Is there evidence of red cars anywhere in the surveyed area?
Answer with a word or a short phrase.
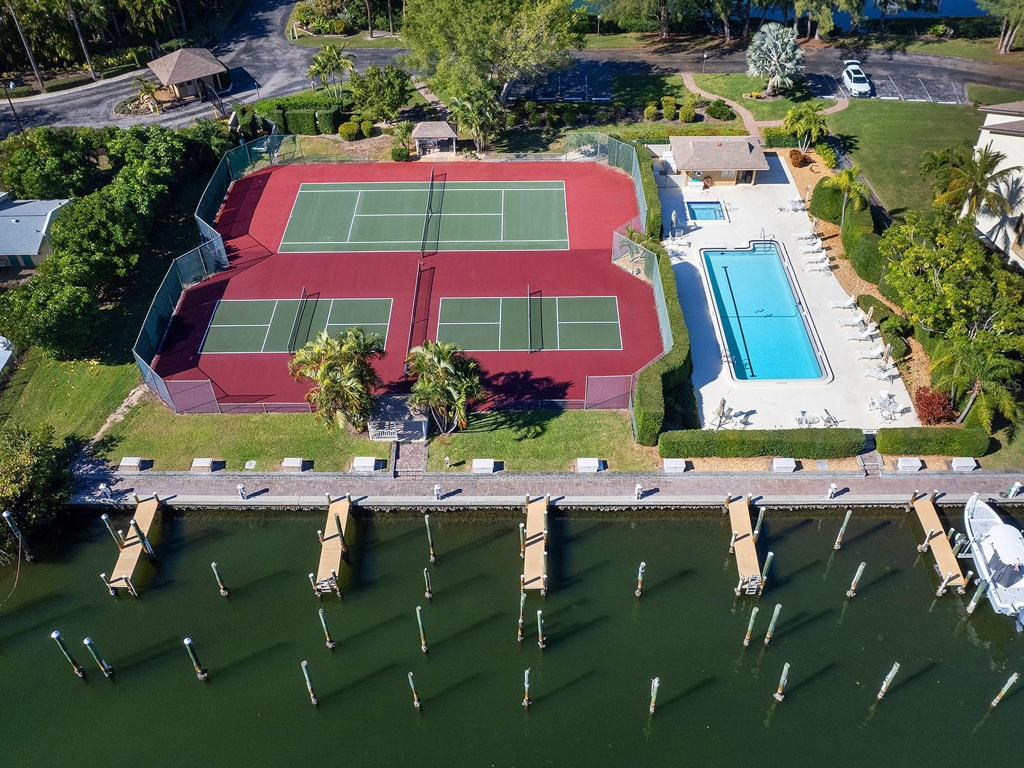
No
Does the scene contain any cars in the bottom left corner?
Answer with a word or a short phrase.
No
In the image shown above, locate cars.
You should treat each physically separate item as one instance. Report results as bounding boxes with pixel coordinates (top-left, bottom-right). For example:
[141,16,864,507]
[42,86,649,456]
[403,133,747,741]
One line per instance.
[843,56,872,94]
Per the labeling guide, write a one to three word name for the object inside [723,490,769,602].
pier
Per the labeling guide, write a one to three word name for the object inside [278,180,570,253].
tennis court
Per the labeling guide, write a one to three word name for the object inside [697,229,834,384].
swimming pool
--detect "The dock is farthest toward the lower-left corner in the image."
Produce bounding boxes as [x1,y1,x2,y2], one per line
[100,493,167,601]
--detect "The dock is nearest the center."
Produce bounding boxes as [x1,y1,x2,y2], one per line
[517,491,552,599]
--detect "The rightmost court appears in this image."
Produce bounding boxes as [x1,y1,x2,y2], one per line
[436,297,623,350]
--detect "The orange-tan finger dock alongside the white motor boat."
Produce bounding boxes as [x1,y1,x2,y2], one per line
[907,488,975,597]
